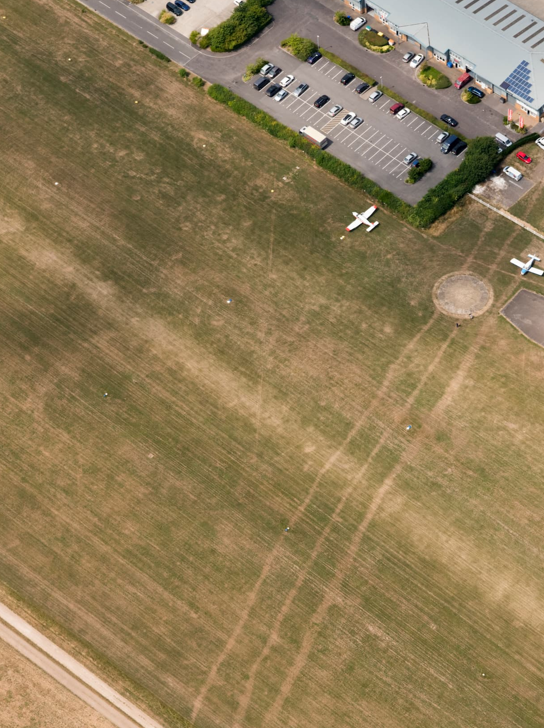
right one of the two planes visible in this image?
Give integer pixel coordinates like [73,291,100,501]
[508,252,544,277]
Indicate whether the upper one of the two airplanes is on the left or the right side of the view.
right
